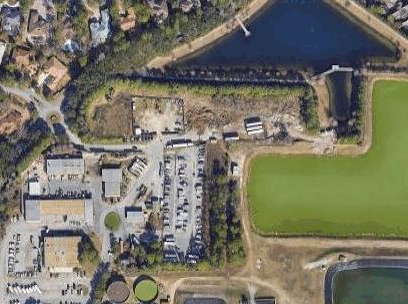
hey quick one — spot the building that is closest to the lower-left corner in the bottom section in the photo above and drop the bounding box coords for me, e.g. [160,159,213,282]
[43,236,81,275]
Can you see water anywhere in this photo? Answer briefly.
Yes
